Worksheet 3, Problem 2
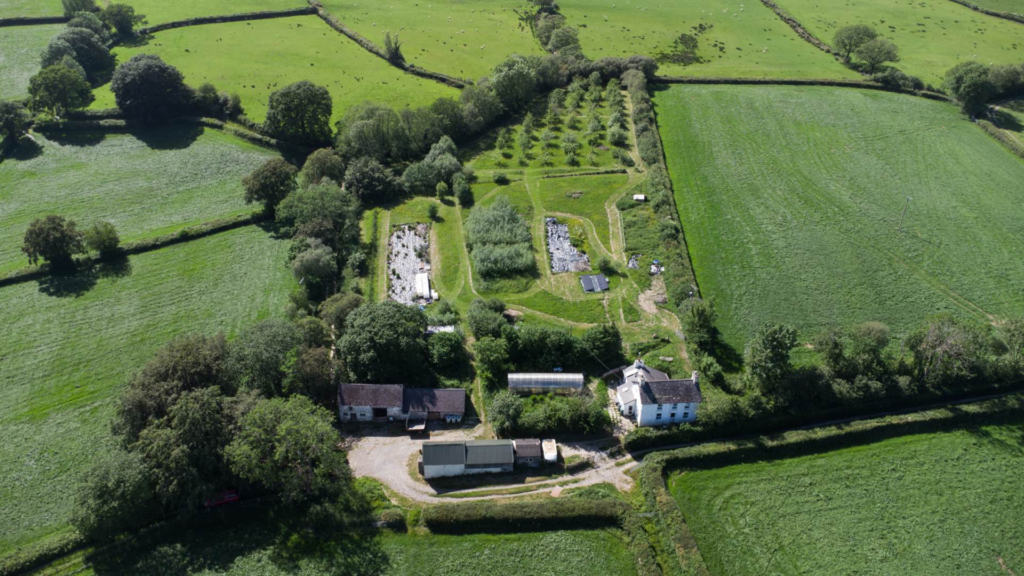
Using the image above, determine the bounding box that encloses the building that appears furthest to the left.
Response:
[335,379,409,421]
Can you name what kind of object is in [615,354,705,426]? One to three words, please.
house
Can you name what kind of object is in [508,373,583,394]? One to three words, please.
greenhouse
